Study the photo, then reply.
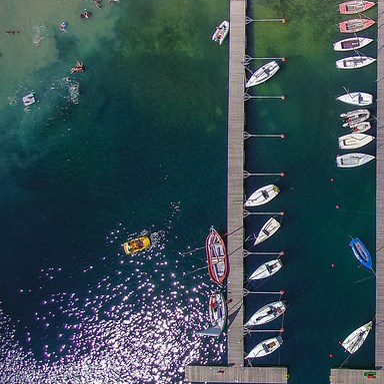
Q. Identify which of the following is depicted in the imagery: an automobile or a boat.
boat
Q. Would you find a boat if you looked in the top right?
Yes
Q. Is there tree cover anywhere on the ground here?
No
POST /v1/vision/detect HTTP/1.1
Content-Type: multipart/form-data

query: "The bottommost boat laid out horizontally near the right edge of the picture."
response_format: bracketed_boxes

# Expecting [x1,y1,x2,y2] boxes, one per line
[336,152,375,166]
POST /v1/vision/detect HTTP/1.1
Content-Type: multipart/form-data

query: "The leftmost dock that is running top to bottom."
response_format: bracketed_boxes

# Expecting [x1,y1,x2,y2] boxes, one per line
[227,0,248,367]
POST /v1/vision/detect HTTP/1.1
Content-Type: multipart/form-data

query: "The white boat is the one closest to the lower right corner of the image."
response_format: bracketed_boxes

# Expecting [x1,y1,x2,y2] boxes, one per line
[340,316,376,365]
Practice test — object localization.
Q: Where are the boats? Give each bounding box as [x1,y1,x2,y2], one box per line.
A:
[351,237,376,275]
[245,258,285,283]
[185,228,229,284]
[249,218,280,247]
[336,152,375,166]
[241,337,283,371]
[242,301,289,335]
[340,316,376,365]
[239,183,282,206]
[337,0,376,14]
[196,292,228,339]
[239,59,281,90]
[337,133,378,149]
[344,121,372,134]
[214,19,228,45]
[337,9,379,32]
[332,30,373,52]
[337,90,375,106]
[343,110,371,125]
[335,50,377,70]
